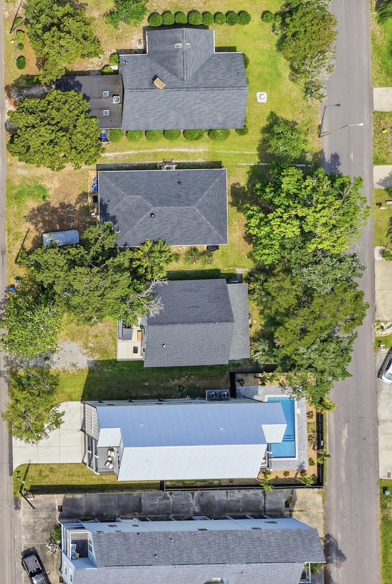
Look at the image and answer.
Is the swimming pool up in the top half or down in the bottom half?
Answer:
bottom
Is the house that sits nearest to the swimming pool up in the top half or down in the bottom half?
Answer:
bottom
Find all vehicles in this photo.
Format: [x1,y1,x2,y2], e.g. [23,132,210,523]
[377,349,392,384]
[21,549,49,584]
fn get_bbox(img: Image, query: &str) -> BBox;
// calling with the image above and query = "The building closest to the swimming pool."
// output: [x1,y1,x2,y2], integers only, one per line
[76,401,288,482]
